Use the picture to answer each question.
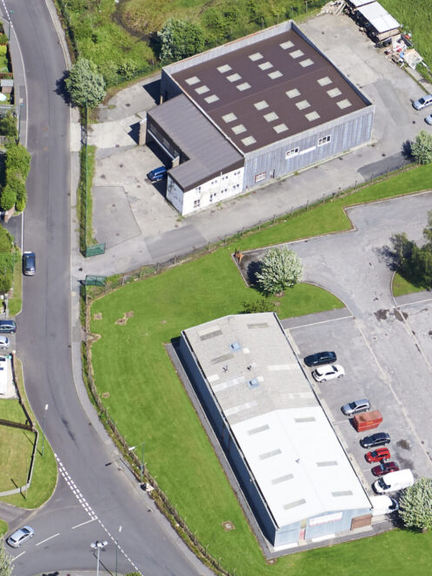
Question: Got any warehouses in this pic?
Yes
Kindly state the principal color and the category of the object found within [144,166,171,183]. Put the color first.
blue car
